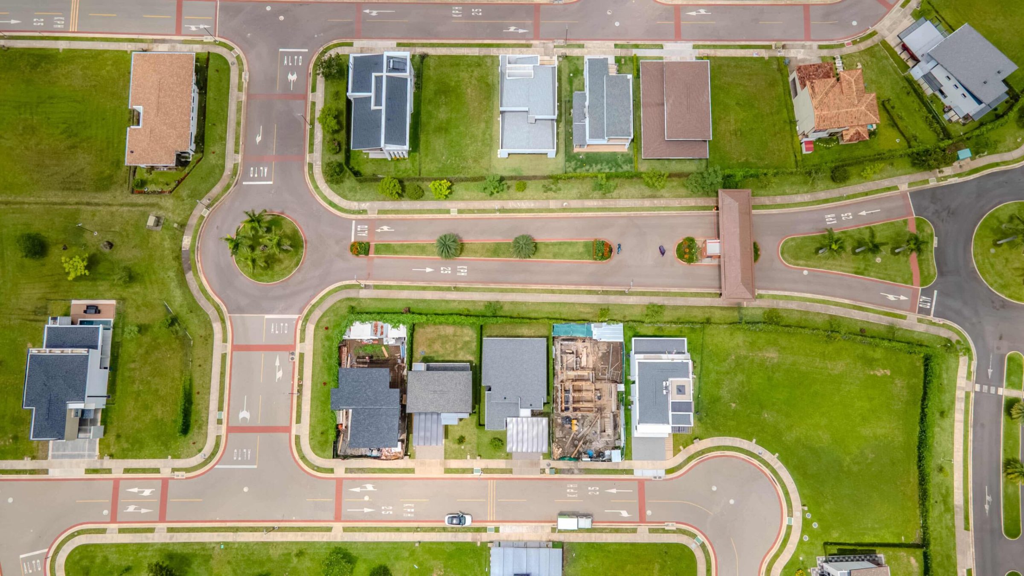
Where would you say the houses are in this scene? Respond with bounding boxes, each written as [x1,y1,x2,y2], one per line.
[406,363,472,446]
[811,554,890,576]
[498,55,557,160]
[890,17,1019,125]
[573,57,633,152]
[482,337,548,452]
[490,538,562,576]
[627,338,693,457]
[640,61,711,161]
[23,300,118,440]
[330,368,402,448]
[347,52,413,161]
[125,52,200,192]
[791,62,880,145]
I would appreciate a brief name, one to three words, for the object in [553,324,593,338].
shed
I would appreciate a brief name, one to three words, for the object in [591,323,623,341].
shed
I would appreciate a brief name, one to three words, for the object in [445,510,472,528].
car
